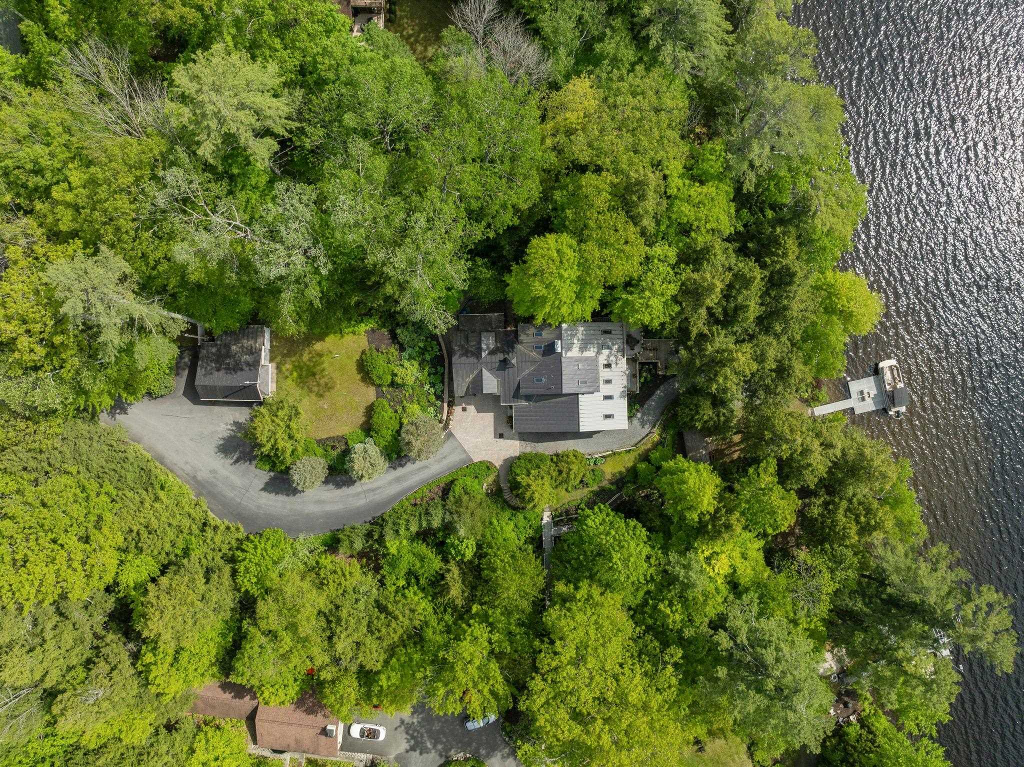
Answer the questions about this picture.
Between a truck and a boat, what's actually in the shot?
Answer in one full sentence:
It is a boat that can be seen here.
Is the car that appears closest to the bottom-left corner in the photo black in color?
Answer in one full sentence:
No, the car that appears closest to the bottom-left corner is actually white.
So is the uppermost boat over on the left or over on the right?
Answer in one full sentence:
The uppermost boat appears in the right half of the scene.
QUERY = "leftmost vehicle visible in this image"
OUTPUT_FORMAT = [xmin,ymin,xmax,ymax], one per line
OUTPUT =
[348,723,386,744]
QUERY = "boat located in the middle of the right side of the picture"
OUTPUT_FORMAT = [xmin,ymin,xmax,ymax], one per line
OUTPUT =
[881,363,914,419]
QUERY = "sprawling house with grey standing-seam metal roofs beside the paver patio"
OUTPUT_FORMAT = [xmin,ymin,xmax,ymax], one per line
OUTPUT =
[451,315,627,432]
